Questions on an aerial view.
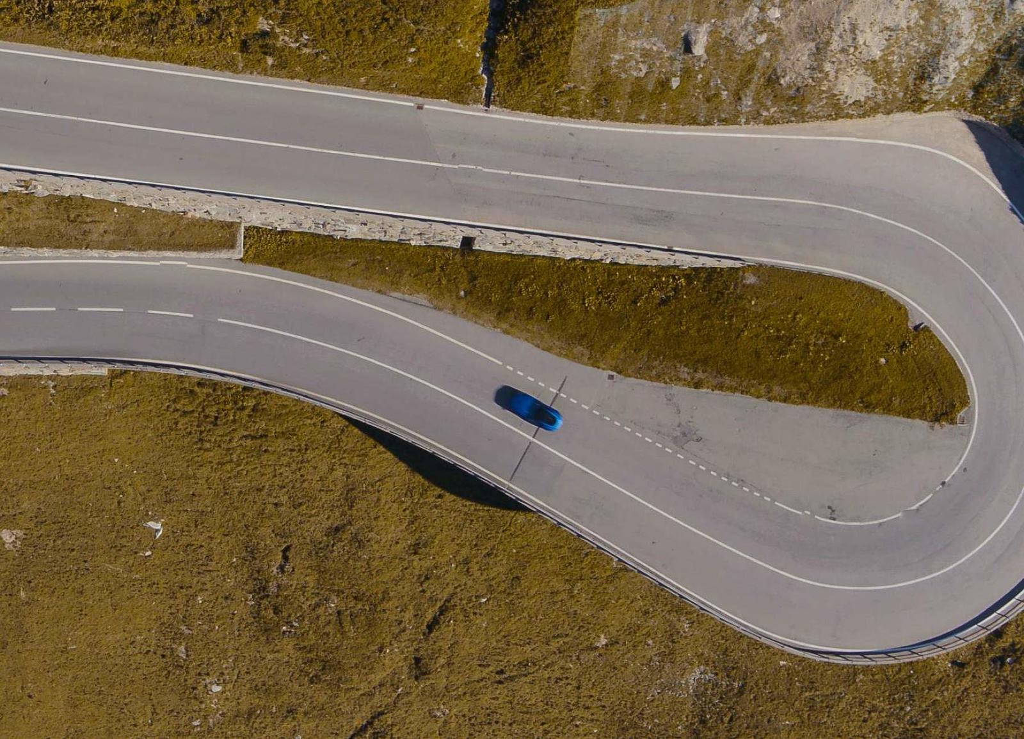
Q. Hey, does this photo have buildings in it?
No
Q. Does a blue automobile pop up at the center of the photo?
Yes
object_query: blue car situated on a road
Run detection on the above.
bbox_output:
[511,393,565,433]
